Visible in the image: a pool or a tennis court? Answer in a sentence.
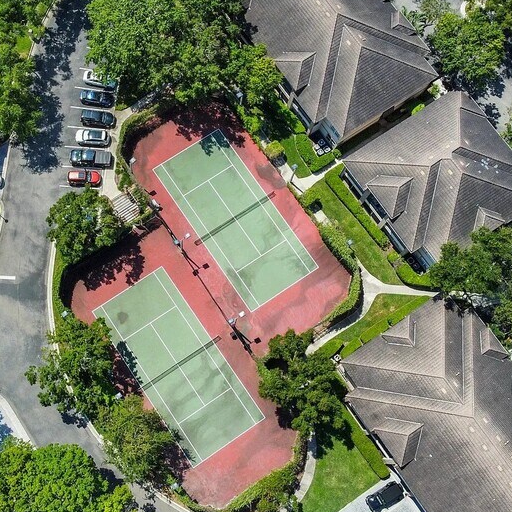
It is a tennis court that can be seen here.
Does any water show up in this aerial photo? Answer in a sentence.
No, the scene doesn't show any water.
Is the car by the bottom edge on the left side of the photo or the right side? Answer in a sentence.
The car by the bottom edge is on the right side of the image.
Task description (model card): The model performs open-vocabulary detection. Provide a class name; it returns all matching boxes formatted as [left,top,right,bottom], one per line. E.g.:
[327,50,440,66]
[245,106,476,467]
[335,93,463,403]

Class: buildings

[338,296,512,512]
[342,91,512,269]
[213,0,438,150]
